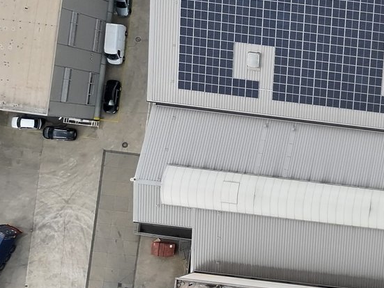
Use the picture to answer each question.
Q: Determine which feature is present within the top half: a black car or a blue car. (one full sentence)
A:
Visible within the top half is a black car.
